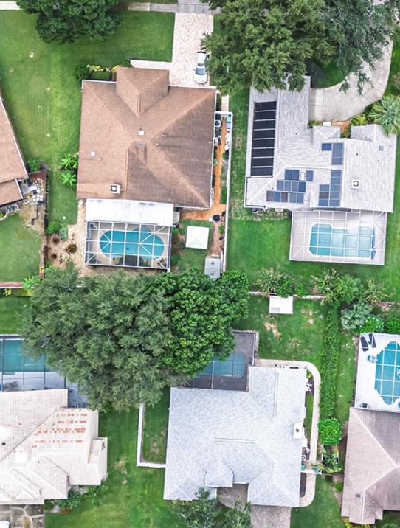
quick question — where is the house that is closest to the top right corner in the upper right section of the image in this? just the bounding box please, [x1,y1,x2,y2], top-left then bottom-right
[244,73,397,212]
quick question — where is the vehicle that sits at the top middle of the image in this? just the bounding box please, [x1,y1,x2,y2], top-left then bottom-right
[193,48,210,85]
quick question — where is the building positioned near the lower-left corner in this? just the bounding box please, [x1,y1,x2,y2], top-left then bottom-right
[0,389,111,505]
